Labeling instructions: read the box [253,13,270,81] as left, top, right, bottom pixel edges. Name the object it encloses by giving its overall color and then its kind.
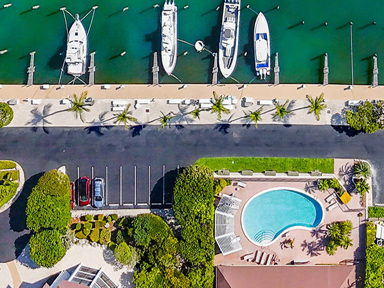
white boat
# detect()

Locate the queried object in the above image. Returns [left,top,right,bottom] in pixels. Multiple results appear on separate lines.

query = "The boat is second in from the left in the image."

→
[161,0,178,76]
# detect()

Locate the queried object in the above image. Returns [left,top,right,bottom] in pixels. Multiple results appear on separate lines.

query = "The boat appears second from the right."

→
[220,0,241,78]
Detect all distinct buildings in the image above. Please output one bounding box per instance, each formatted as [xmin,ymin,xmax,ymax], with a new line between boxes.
[44,259,122,288]
[216,258,354,288]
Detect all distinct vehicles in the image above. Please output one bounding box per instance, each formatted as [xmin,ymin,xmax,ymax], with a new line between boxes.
[67,181,76,209]
[76,176,91,206]
[90,176,106,208]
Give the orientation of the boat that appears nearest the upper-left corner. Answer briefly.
from top to bottom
